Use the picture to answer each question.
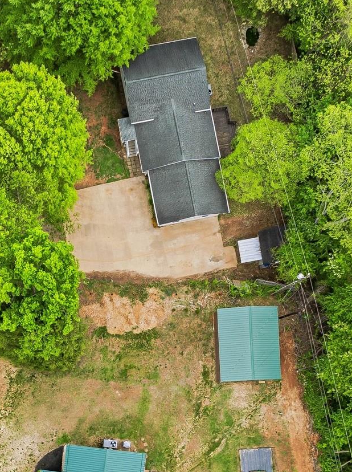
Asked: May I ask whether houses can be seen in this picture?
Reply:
Yes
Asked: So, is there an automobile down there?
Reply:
No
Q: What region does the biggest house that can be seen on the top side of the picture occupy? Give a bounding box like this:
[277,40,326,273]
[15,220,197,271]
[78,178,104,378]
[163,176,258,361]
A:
[114,36,230,230]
